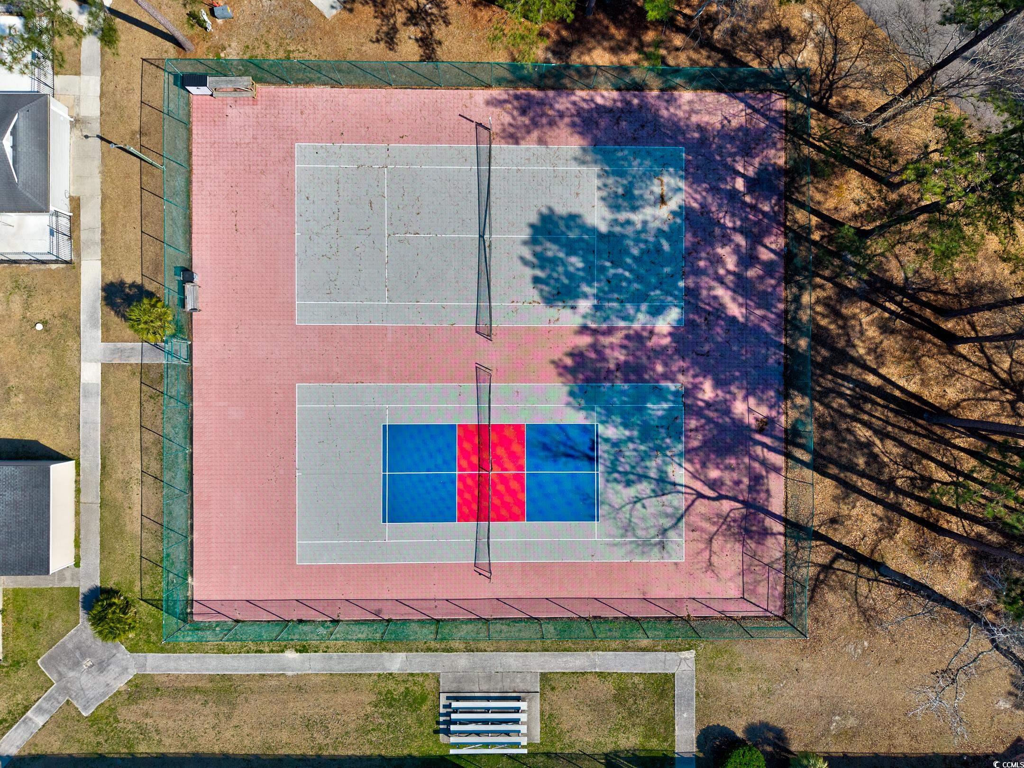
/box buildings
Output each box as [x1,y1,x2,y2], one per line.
[0,461,76,578]
[184,74,216,96]
[0,93,75,220]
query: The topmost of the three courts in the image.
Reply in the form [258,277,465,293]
[295,144,684,325]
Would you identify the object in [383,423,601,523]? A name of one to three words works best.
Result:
sports court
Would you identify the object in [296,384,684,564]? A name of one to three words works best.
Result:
tennis court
